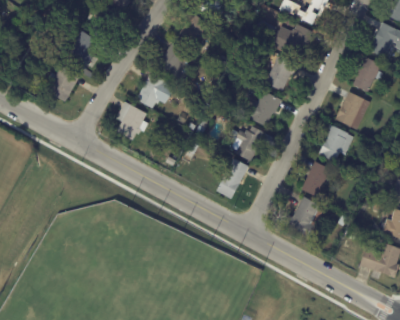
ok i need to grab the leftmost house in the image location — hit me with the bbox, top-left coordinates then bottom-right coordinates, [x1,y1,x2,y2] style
[54,69,78,100]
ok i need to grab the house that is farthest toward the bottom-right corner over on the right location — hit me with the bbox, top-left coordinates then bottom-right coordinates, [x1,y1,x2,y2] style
[361,245,400,279]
